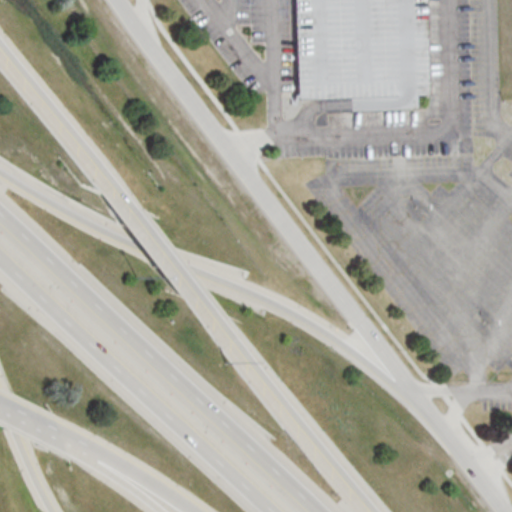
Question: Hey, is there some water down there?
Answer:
No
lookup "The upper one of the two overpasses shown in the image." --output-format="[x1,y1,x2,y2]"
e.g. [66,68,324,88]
[112,198,215,314]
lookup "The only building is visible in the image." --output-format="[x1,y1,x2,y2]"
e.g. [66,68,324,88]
[296,0,430,112]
